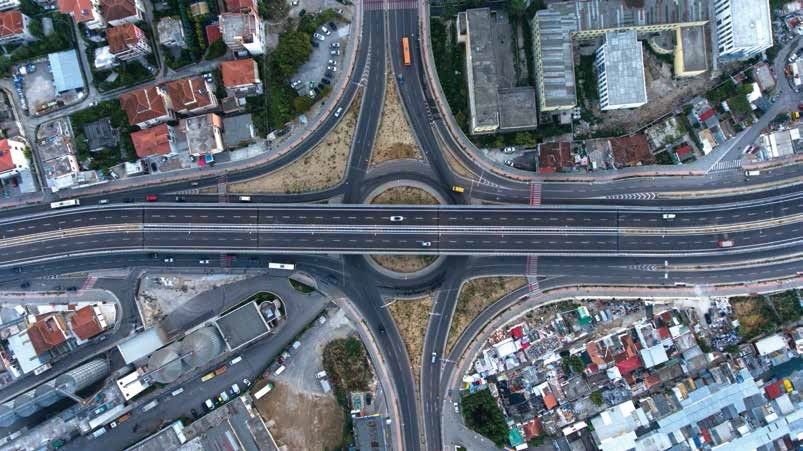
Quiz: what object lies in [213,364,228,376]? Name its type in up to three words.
vehicle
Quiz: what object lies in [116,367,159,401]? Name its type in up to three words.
building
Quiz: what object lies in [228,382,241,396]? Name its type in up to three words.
vehicle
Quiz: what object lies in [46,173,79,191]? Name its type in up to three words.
house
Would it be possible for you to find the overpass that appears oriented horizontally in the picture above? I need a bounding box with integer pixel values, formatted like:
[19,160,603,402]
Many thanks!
[0,191,803,268]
